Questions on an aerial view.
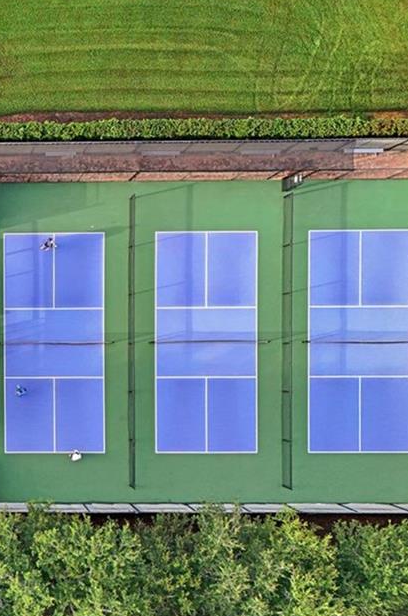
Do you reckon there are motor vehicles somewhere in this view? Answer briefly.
No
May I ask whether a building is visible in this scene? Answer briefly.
No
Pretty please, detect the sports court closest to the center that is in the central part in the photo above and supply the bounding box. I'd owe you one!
[156,231,257,453]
